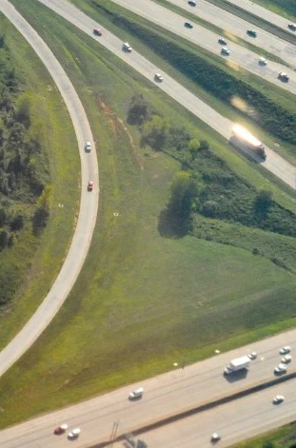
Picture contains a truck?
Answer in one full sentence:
Yes, there's a truck down there.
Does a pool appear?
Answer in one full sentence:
No, the picture doesn't show any pool.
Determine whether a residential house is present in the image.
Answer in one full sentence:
No, this view has no residential house in it.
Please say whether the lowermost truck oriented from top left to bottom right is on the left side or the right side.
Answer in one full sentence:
The lowermost truck oriented from top left to bottom right appears in the right half of the scene.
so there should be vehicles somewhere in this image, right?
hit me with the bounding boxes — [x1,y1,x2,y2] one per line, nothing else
[154,73,163,81]
[272,396,285,404]
[220,47,230,55]
[225,356,250,374]
[257,58,268,65]
[187,0,197,6]
[208,434,222,442]
[273,364,288,373]
[246,352,258,359]
[127,389,144,399]
[52,424,69,434]
[87,181,92,190]
[277,73,289,81]
[67,428,81,438]
[92,29,102,35]
[229,125,266,159]
[278,346,291,354]
[245,30,257,37]
[184,22,193,28]
[217,39,227,45]
[280,355,293,363]
[85,142,90,151]
[122,43,132,50]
